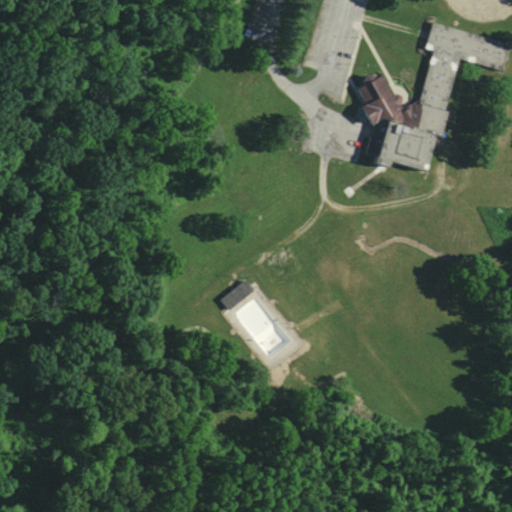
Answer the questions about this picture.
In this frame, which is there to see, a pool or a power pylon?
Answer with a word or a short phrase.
pool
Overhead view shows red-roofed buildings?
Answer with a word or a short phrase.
No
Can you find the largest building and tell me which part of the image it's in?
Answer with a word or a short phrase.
top right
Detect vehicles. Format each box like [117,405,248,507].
[246,28,252,38]
[340,52,352,58]
[347,140,362,146]
[251,34,260,40]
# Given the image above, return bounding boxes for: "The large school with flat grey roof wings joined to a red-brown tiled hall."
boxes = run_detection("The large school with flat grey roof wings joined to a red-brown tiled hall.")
[360,22,508,170]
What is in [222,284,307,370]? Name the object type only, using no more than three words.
swimming pool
